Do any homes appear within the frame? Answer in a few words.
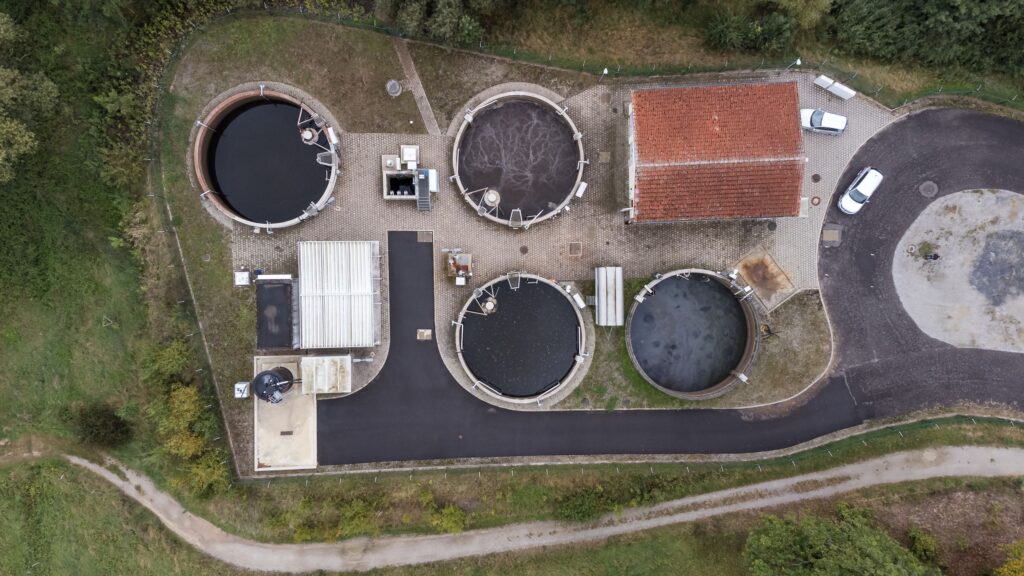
Yes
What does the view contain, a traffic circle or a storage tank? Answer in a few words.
storage tank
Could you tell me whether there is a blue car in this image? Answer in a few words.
No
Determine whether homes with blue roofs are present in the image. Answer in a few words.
No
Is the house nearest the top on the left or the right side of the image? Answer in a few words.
right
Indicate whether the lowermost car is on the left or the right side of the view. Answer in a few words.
right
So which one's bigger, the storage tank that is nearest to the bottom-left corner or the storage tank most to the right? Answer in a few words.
the storage tank most to the right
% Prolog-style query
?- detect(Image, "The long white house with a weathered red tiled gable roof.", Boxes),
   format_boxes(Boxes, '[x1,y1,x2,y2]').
[620,79,811,223]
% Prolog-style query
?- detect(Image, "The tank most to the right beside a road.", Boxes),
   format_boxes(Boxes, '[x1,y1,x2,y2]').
[625,267,759,401]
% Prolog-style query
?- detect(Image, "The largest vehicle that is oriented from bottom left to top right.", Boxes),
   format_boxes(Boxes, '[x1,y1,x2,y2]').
[836,166,883,215]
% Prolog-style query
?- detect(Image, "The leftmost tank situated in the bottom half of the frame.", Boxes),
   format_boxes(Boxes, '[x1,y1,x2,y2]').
[251,367,302,406]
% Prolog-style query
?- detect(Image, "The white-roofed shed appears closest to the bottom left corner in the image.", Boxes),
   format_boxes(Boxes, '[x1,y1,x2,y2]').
[302,355,355,393]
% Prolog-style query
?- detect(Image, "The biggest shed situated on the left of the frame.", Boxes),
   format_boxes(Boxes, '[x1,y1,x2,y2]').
[292,240,383,348]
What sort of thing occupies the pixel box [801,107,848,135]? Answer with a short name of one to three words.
car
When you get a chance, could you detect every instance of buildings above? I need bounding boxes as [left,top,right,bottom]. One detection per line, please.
[292,240,383,348]
[620,79,811,223]
[302,355,355,393]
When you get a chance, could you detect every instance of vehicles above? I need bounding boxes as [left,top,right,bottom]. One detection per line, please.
[836,166,883,215]
[801,107,848,135]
